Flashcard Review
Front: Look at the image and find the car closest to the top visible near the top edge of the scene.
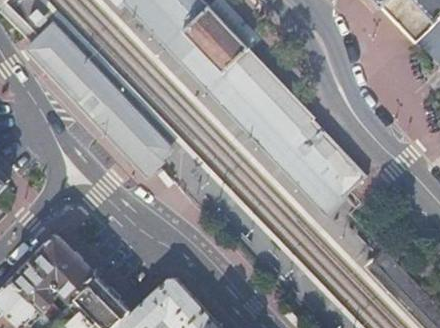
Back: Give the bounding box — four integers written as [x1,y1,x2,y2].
[334,16,350,36]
